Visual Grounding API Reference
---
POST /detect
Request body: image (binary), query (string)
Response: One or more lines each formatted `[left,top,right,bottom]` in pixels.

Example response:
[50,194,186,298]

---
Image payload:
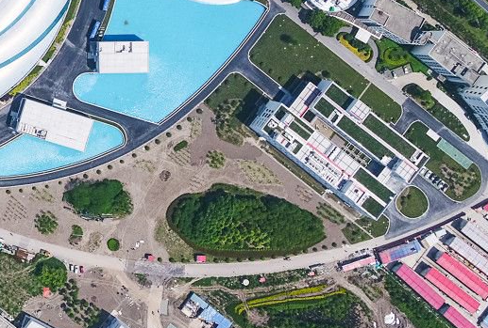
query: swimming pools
[0,116,128,180]
[71,0,269,127]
